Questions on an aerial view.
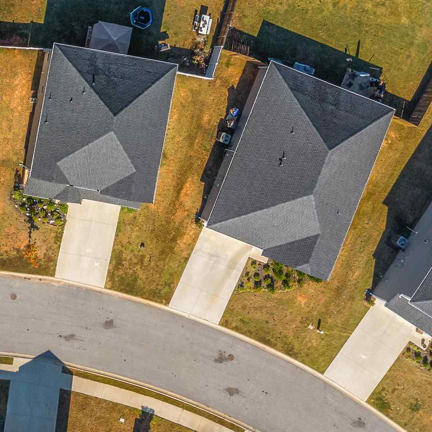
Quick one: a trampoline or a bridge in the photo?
trampoline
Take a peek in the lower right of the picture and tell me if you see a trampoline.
No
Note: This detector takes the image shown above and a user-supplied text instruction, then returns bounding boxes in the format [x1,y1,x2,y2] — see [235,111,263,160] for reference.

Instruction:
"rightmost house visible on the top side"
[196,62,395,282]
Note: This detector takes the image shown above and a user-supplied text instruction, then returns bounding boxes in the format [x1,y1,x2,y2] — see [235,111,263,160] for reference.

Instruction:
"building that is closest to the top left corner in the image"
[18,43,179,209]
